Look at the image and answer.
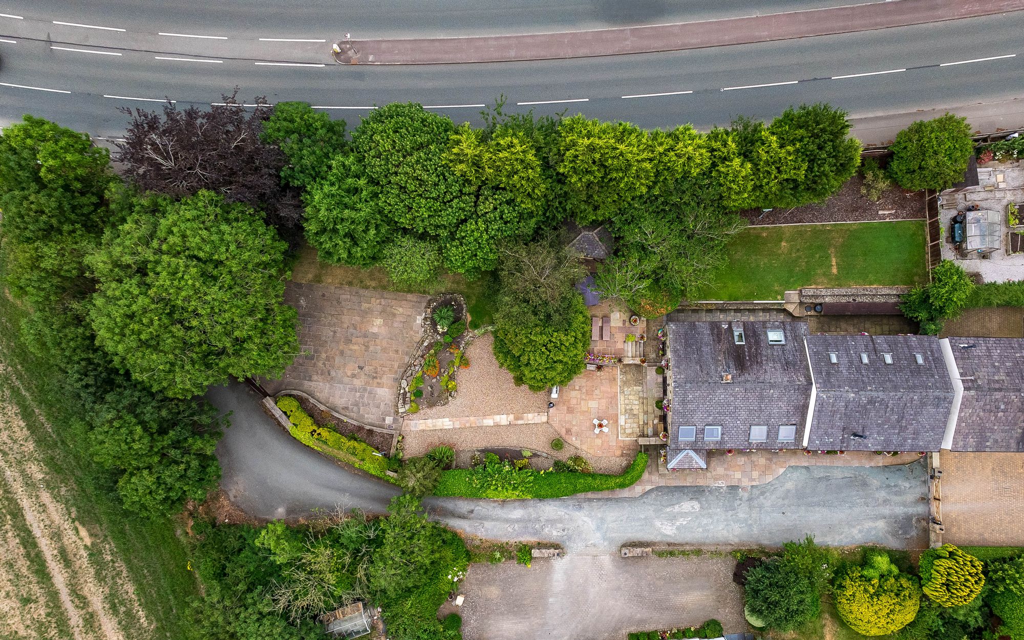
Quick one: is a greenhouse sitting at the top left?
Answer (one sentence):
No, I see no greenhouse at the top left.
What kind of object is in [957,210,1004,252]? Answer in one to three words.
greenhouse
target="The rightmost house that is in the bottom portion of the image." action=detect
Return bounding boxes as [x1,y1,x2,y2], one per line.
[942,335,1024,453]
